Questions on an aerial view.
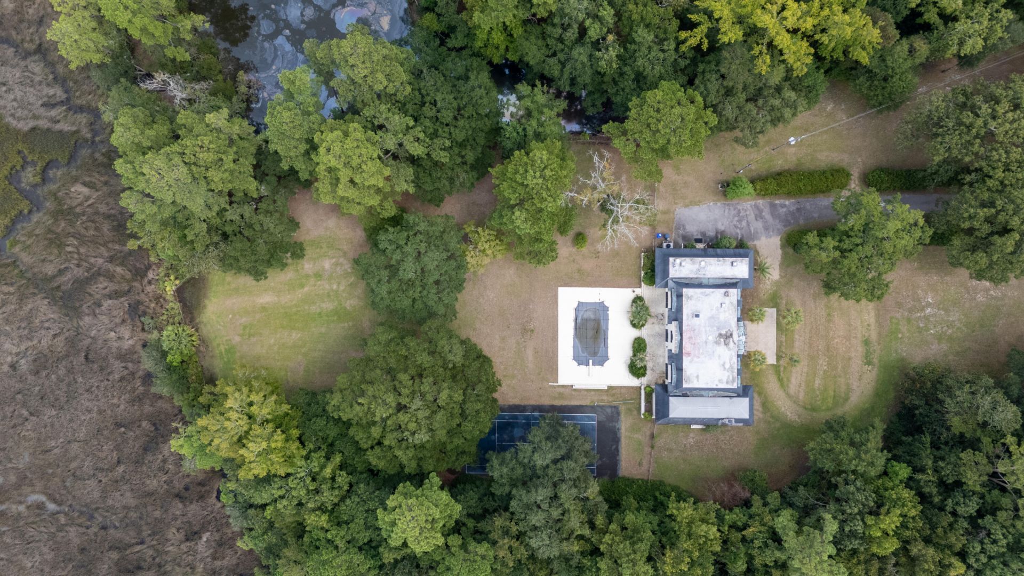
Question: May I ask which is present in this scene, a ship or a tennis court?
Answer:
tennis court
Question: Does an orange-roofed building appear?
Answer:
No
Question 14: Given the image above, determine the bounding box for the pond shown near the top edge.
[200,0,427,135]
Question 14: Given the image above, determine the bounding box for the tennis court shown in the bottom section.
[451,404,621,483]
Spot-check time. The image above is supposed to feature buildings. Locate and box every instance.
[654,248,754,425]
